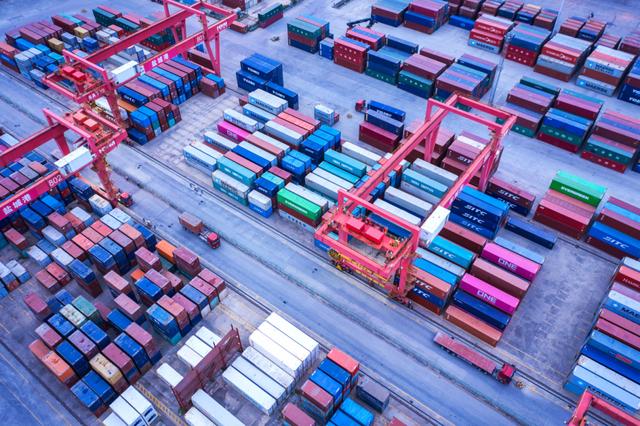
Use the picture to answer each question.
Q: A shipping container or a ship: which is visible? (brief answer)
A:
shipping container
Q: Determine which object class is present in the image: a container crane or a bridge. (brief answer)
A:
container crane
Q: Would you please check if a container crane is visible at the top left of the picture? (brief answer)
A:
Yes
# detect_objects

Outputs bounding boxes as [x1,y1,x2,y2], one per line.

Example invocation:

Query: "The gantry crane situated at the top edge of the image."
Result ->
[41,0,239,141]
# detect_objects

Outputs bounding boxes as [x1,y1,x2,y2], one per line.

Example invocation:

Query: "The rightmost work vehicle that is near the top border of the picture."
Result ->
[346,11,382,32]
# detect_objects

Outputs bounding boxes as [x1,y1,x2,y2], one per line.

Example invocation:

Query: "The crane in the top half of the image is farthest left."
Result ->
[0,106,128,219]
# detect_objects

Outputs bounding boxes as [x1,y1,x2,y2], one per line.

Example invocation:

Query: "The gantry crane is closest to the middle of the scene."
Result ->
[312,93,520,305]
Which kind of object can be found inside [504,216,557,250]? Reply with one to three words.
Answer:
shipping container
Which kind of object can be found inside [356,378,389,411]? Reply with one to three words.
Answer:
shipping container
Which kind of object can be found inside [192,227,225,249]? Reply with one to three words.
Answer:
truck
